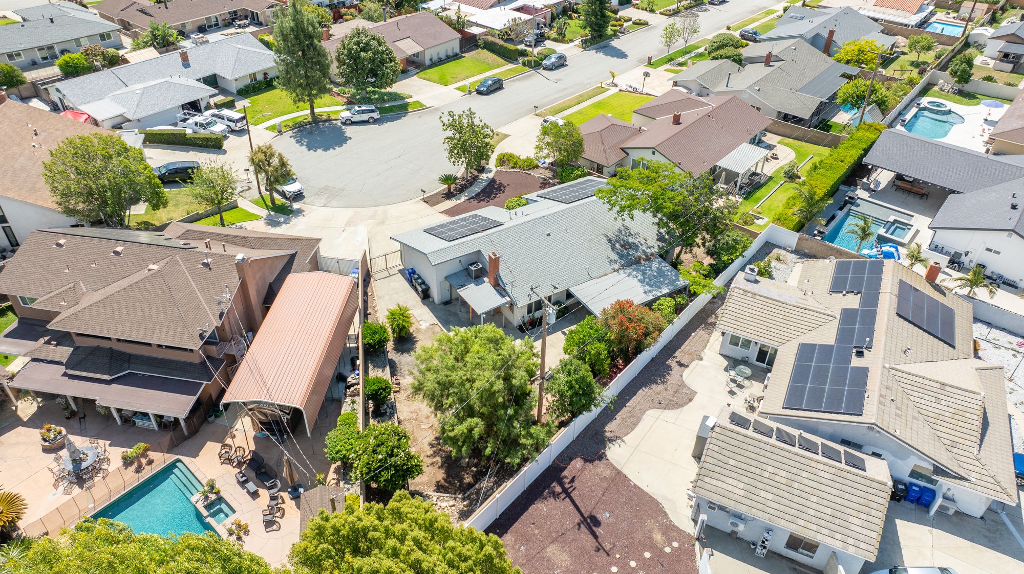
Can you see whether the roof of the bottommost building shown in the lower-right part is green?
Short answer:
No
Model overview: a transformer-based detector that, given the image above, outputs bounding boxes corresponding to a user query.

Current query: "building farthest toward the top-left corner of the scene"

[0,0,123,69]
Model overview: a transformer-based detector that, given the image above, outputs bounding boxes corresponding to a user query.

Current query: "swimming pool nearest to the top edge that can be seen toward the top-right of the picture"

[923,20,963,36]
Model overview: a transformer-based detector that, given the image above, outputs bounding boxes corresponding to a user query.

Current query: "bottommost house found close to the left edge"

[0,217,335,442]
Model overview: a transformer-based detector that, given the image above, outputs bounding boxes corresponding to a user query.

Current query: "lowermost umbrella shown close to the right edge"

[978,98,1005,120]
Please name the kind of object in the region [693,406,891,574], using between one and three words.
building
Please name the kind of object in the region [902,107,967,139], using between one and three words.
swimming pool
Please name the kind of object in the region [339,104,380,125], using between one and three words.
car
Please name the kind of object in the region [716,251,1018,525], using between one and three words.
house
